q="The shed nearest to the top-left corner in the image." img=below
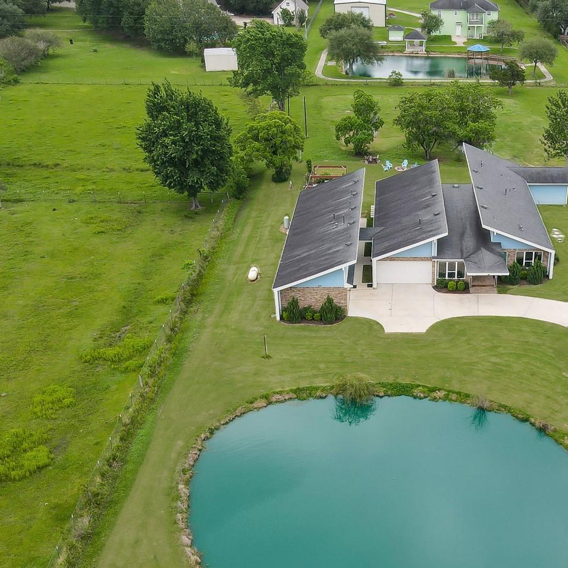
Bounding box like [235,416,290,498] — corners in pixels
[203,43,241,71]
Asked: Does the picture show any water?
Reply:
Yes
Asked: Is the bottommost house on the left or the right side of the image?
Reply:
right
